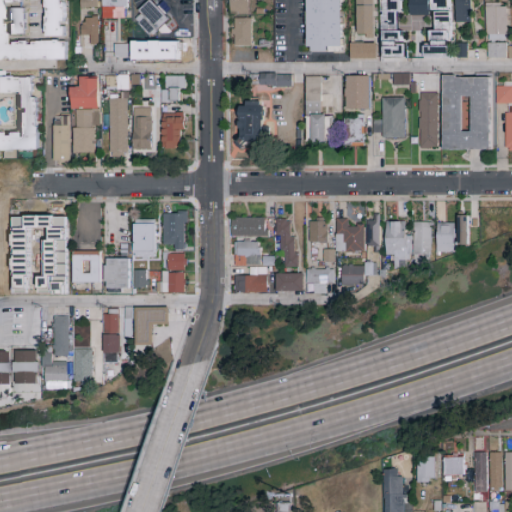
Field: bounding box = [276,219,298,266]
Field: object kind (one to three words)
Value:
house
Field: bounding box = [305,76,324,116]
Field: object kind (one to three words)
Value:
building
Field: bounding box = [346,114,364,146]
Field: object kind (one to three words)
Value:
house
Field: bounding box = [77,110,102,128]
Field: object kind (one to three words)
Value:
building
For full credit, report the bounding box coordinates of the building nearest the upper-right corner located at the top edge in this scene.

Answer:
[486,3,508,42]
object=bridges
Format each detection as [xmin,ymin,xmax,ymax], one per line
[120,346,218,512]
